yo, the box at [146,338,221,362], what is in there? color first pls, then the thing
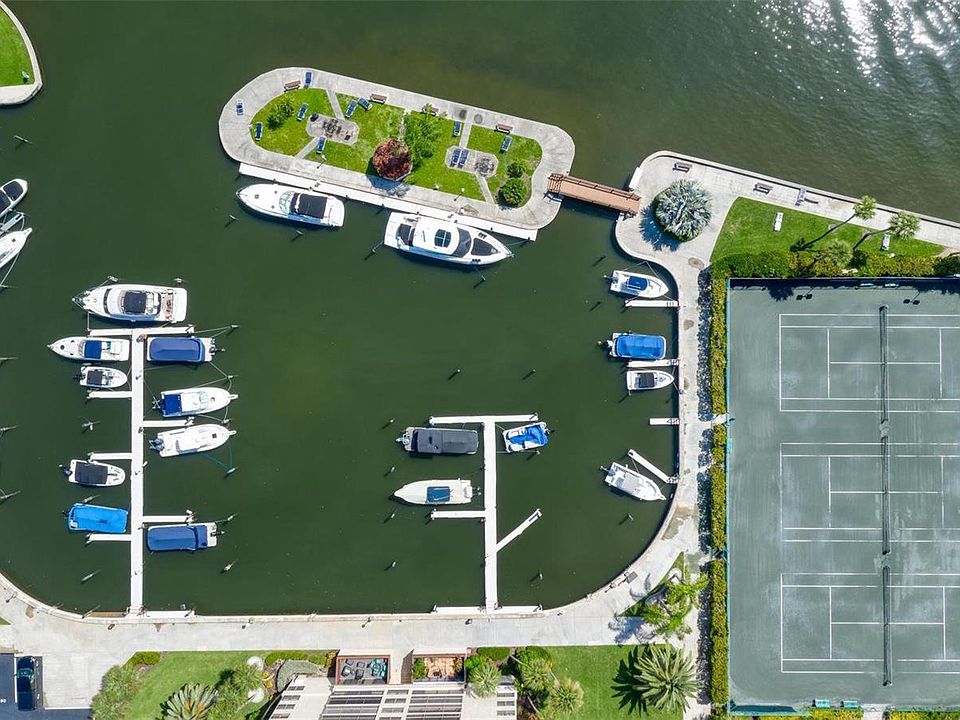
blue boat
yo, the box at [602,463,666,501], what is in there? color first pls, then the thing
white boat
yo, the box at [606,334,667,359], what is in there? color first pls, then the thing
blue boat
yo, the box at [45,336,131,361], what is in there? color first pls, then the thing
white boat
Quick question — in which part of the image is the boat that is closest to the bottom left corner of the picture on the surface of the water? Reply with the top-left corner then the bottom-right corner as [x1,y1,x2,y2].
[64,502,131,533]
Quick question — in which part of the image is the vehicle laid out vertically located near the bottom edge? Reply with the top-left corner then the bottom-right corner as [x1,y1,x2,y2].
[14,655,39,709]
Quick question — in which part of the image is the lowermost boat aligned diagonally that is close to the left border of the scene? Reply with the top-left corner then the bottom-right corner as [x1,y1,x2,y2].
[0,229,29,276]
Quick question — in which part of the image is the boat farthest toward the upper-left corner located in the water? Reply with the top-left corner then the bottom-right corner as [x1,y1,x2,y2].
[0,181,28,223]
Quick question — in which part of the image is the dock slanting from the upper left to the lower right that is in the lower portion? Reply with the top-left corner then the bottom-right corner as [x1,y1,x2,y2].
[629,449,677,484]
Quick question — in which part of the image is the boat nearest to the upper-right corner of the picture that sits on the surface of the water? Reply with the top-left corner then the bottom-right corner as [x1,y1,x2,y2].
[604,271,668,295]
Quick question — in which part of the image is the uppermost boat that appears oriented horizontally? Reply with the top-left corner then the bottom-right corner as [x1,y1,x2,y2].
[234,182,347,224]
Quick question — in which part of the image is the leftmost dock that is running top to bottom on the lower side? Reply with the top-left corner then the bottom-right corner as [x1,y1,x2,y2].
[89,325,196,616]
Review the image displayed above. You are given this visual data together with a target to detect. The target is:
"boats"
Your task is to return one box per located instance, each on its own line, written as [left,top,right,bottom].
[503,421,551,448]
[62,460,126,486]
[146,521,225,550]
[70,281,190,320]
[382,211,517,262]
[154,387,235,415]
[64,502,131,533]
[602,463,666,501]
[395,480,479,505]
[153,425,234,455]
[0,181,28,223]
[234,182,347,224]
[606,334,667,359]
[73,368,128,388]
[45,336,131,361]
[146,338,221,362]
[401,427,478,454]
[624,369,674,389]
[0,229,29,276]
[604,271,668,295]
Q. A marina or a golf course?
marina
